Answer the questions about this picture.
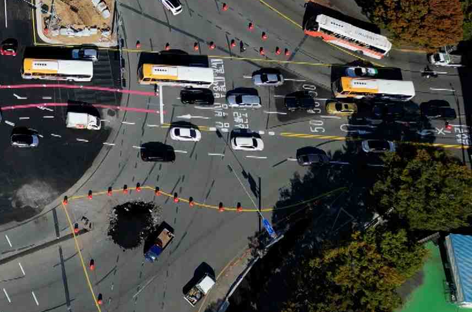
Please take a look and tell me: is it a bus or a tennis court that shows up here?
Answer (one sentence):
This aerial view contains a bus.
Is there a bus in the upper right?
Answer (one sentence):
Yes, a bus shows up in the upper right.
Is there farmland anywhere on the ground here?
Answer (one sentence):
No, the scene doesn't show any farmland.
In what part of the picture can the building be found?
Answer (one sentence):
The building sits in the bottom right section of the image.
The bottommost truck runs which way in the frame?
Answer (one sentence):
In this picture, the bottommost truck is oriented diagonally.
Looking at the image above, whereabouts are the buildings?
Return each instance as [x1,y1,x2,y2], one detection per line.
[434,235,472,308]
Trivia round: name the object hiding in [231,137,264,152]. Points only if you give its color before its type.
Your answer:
white car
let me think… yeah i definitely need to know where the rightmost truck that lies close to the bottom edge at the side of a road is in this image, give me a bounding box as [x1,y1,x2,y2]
[183,274,218,308]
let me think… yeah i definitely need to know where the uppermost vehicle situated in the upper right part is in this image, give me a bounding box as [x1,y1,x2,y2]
[309,15,388,57]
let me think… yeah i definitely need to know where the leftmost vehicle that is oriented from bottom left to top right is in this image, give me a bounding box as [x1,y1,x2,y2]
[146,226,175,262]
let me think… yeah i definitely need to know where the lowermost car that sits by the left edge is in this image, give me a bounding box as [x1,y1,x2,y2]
[8,131,40,147]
